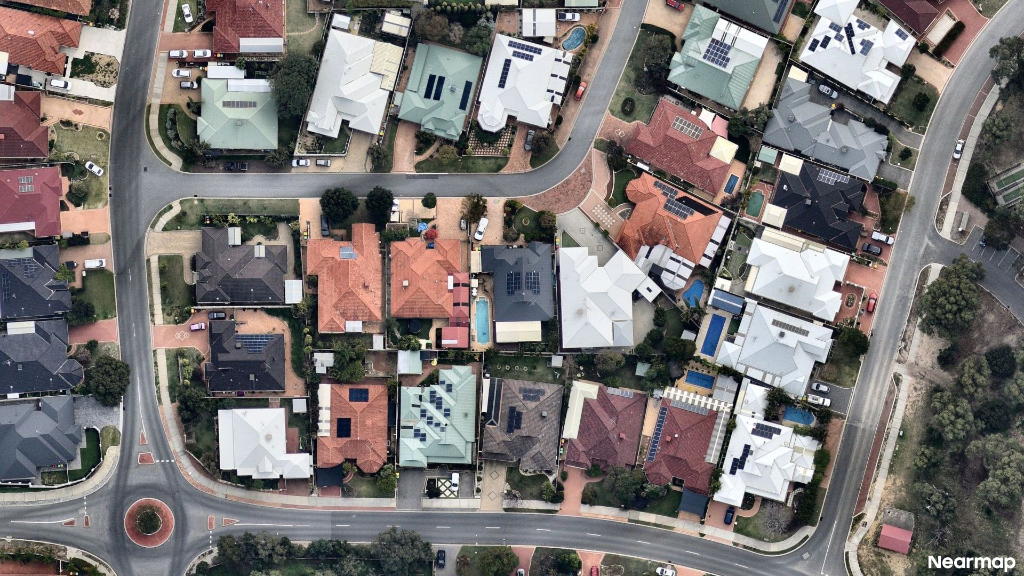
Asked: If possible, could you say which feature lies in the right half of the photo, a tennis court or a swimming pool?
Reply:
swimming pool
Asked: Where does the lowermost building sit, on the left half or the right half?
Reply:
right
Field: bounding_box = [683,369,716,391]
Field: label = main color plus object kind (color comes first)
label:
blue swimming pool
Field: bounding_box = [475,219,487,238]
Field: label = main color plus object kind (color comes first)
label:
white vehicle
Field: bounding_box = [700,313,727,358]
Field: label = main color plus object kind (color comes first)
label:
blue swimming pool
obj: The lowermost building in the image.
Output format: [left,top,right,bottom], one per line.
[877,523,914,555]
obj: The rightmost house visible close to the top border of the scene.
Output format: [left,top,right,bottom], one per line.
[876,0,939,36]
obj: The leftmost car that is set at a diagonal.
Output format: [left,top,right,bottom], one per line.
[85,161,103,176]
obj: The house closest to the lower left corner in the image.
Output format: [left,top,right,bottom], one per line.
[0,396,82,481]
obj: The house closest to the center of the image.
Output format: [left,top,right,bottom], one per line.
[471,242,554,342]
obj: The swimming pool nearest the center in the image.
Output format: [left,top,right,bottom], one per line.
[475,295,491,345]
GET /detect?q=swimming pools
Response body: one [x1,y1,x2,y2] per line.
[744,188,766,219]
[681,278,706,309]
[782,405,815,426]
[561,27,586,52]
[700,313,727,358]
[724,174,740,196]
[475,295,491,345]
[683,369,716,391]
